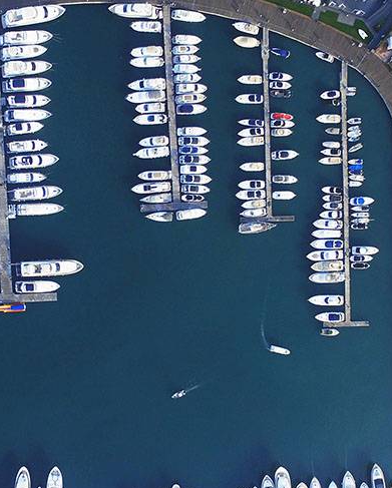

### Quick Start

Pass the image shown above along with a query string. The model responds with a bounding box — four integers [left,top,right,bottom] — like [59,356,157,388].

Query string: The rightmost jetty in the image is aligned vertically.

[322,60,369,328]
